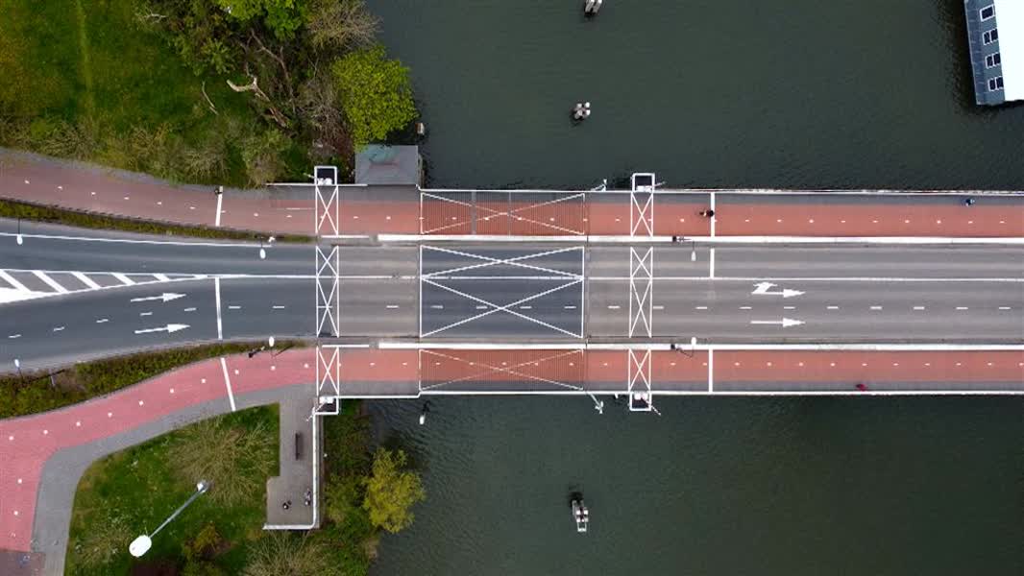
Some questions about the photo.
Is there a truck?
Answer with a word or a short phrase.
No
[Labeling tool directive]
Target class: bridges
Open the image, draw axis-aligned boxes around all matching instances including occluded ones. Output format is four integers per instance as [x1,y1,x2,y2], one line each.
[314,165,1024,414]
